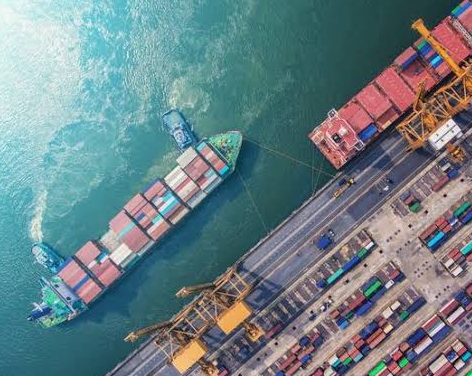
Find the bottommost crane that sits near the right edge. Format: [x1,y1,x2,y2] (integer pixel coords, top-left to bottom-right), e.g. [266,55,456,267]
[395,79,467,162]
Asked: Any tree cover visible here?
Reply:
No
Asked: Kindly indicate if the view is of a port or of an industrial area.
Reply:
port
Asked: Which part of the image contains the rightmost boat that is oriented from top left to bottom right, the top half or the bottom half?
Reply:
top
